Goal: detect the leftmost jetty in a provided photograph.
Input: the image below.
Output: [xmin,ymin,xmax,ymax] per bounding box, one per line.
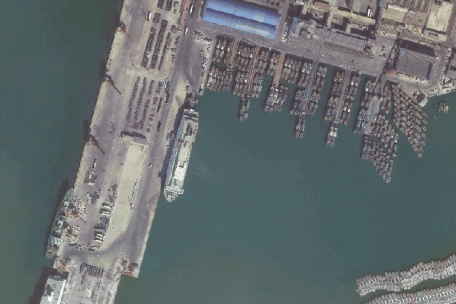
[54,0,216,304]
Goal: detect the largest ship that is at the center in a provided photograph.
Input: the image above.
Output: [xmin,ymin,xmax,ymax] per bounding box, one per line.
[164,107,199,201]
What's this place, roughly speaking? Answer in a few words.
port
